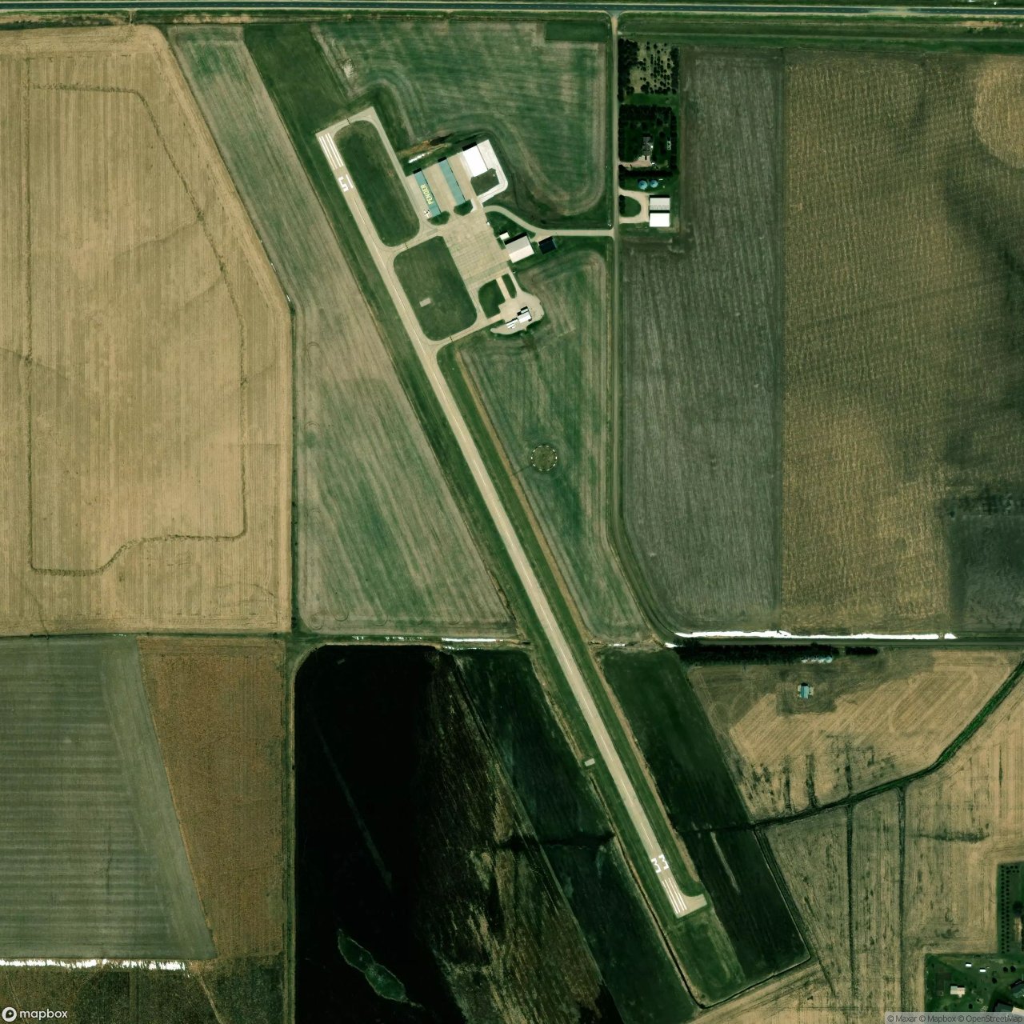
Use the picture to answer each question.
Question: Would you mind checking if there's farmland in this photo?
Yes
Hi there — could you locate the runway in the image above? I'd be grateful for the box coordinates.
[316,128,707,918]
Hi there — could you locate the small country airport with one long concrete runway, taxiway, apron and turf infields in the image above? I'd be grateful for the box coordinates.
[316,107,707,918]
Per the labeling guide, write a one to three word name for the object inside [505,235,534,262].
hangar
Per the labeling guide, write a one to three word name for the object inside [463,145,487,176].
hangar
